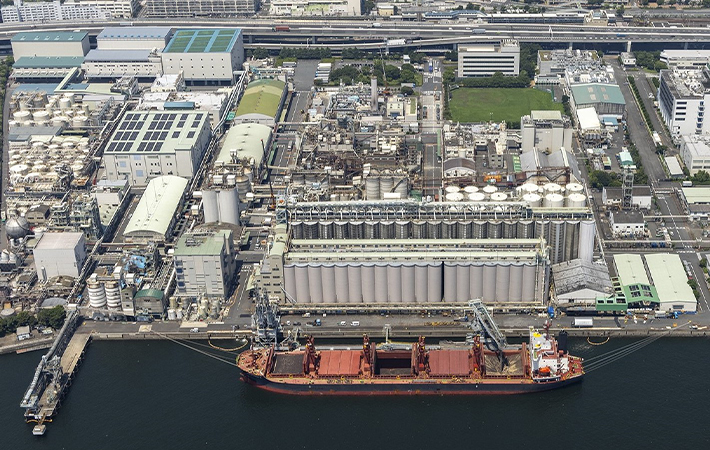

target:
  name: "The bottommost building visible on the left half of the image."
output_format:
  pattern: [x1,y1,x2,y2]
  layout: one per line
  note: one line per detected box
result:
[122,173,192,248]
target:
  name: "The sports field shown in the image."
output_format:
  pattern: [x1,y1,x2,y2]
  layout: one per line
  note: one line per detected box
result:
[449,86,564,124]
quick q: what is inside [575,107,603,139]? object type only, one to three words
shed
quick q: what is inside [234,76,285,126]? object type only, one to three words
building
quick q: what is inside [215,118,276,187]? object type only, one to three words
building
